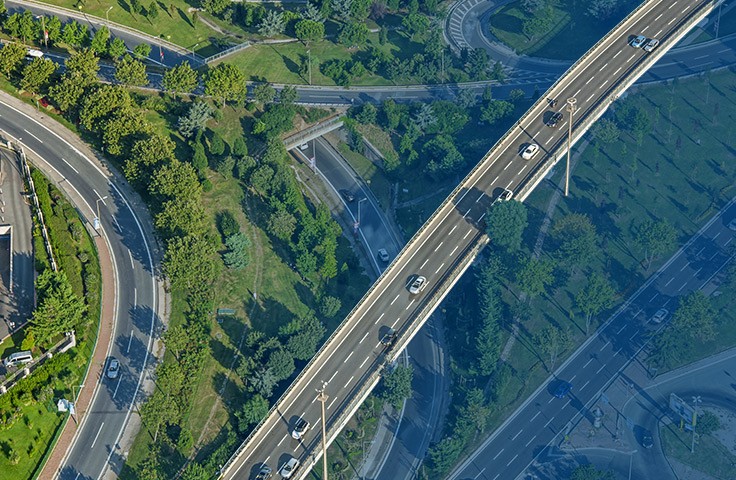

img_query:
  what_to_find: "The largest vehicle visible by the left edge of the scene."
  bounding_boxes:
[4,349,32,366]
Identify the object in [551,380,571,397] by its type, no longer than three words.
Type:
car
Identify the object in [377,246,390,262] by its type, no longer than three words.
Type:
vehicle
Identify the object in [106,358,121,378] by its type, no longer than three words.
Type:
car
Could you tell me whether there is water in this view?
No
